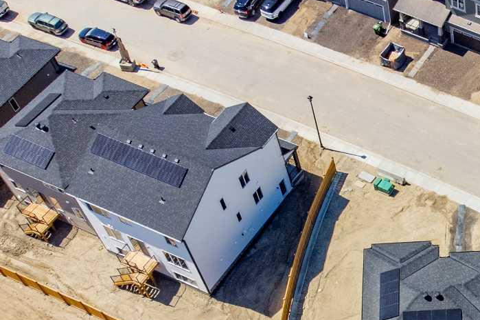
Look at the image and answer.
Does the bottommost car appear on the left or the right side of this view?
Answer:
left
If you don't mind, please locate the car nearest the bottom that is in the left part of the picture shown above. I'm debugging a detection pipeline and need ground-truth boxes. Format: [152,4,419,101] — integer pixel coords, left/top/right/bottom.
[76,28,116,55]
